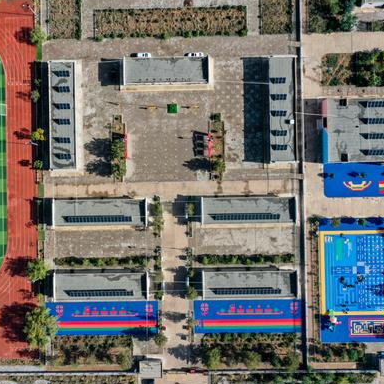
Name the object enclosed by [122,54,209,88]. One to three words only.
building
